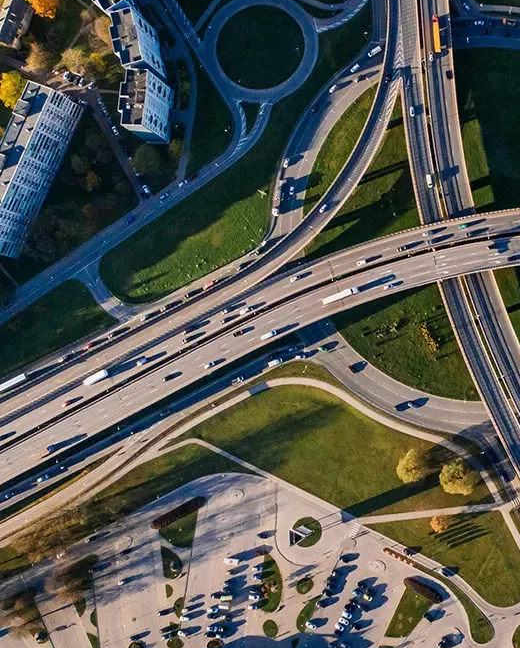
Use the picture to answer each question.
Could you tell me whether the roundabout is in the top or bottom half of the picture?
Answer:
top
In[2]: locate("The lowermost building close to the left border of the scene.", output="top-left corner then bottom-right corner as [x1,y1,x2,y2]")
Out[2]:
[0,79,87,259]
